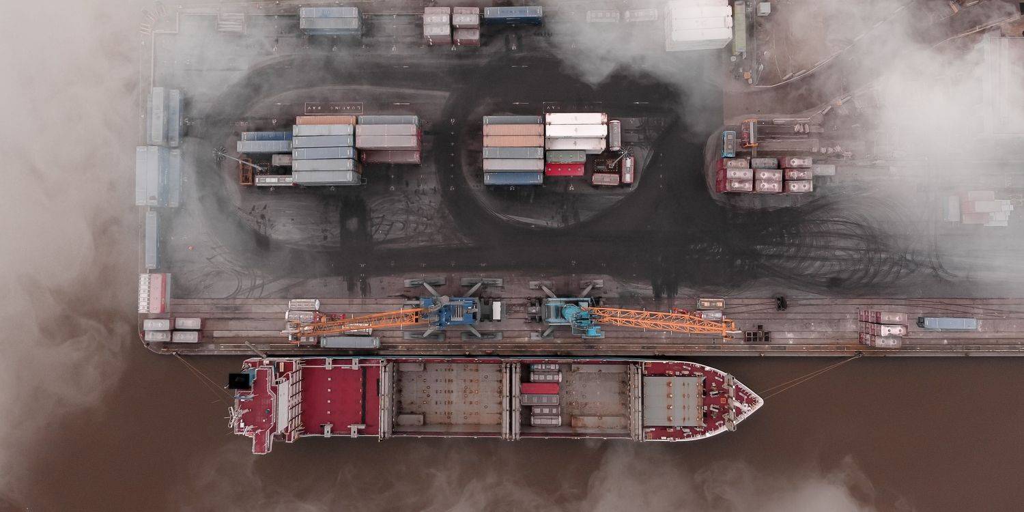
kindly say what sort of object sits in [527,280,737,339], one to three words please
crane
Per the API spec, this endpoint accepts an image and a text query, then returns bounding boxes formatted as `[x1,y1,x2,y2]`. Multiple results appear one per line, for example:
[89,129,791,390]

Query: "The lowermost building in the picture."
[964,35,1024,141]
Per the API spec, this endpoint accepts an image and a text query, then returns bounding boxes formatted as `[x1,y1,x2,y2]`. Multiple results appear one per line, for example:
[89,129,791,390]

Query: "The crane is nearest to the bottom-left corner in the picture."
[285,278,505,342]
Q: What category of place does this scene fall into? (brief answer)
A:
port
